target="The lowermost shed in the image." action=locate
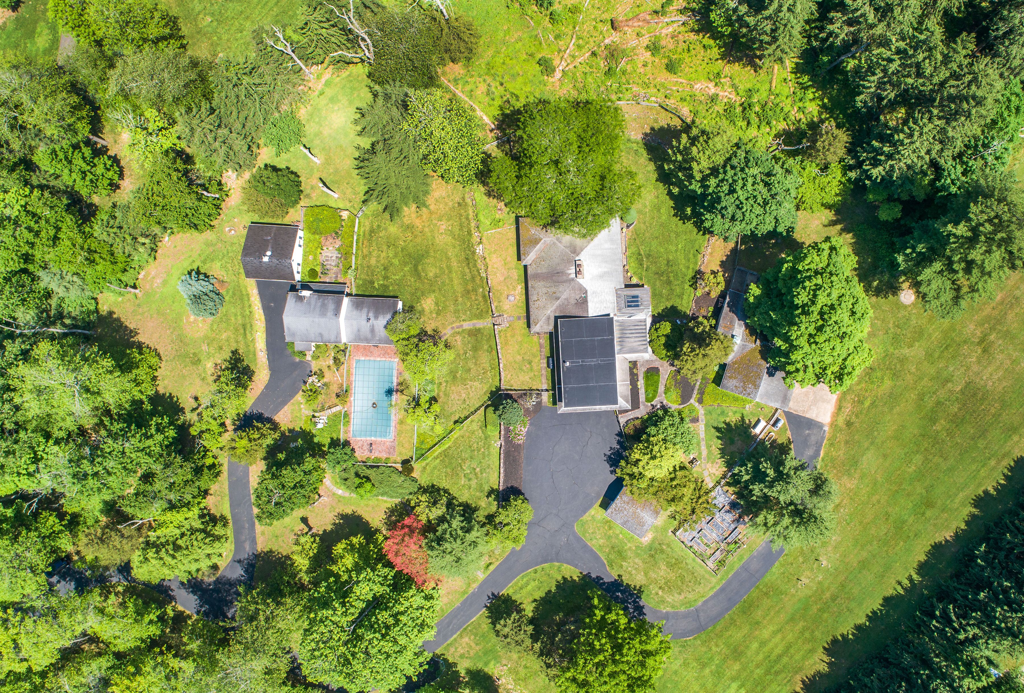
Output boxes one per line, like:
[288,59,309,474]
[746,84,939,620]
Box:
[605,482,666,539]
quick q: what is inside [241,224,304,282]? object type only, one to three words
building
